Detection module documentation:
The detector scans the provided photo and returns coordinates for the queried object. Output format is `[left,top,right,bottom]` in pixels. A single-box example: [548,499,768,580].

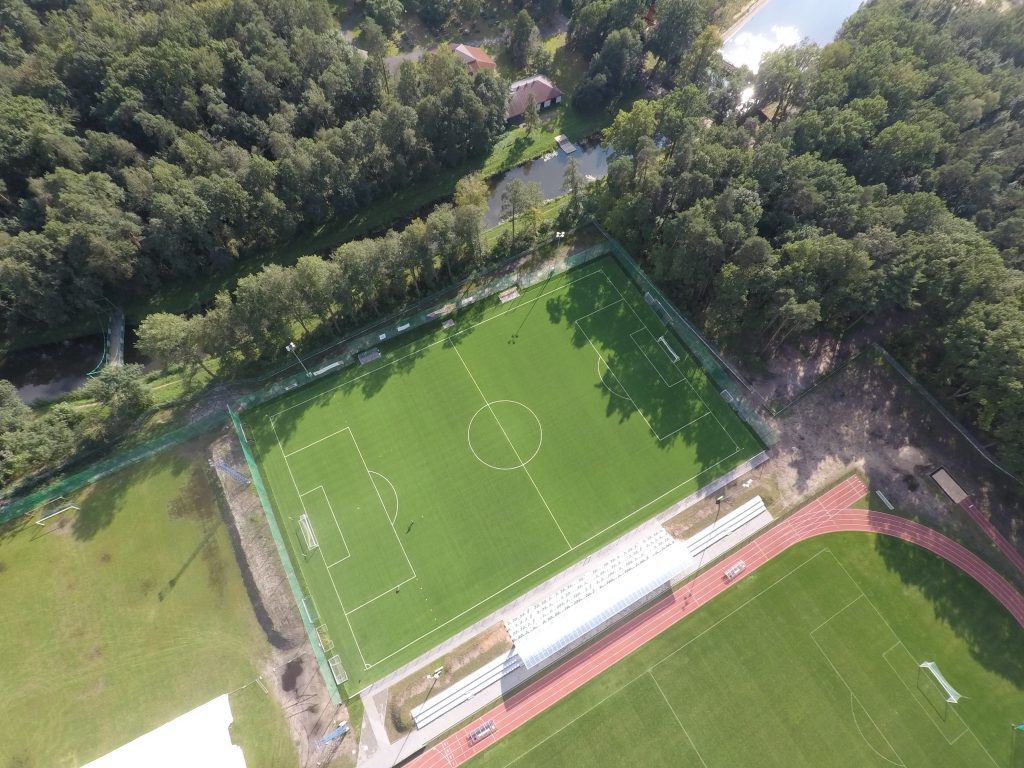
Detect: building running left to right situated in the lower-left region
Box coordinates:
[79,698,244,768]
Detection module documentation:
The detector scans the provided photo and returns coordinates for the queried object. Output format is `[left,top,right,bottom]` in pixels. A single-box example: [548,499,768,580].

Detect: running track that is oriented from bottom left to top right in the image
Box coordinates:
[406,475,869,768]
